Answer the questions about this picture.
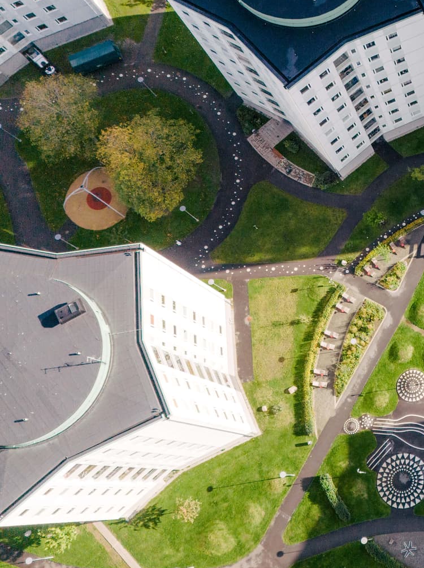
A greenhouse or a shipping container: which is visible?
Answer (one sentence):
It is a shipping container that can be seen here.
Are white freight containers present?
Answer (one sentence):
No, I can't see a single white freight container in this photo.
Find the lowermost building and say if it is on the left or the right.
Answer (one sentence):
It is on the left.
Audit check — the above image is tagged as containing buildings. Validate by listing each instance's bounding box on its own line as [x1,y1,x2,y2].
[0,247,253,517]
[173,0,424,176]
[0,0,112,79]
